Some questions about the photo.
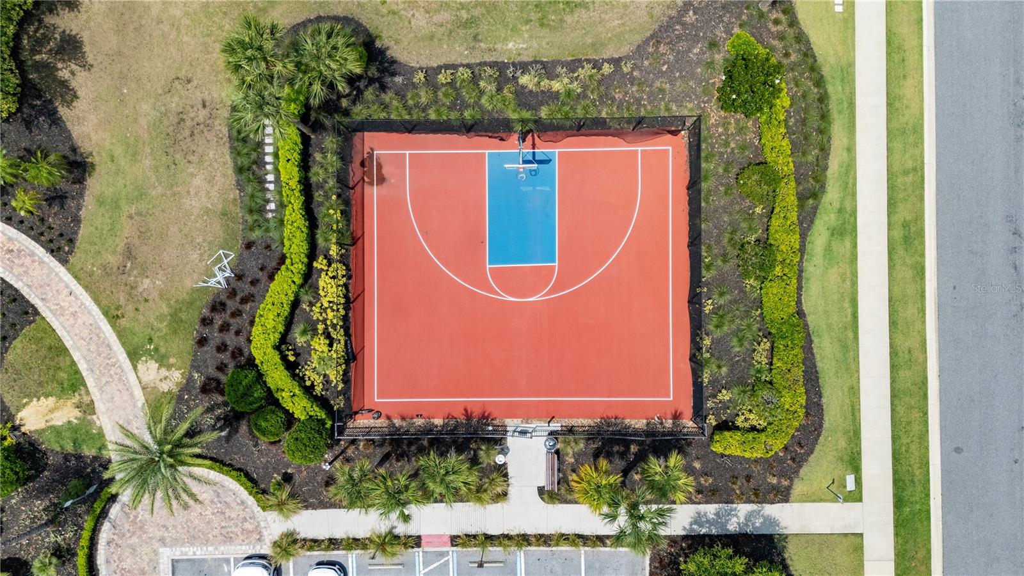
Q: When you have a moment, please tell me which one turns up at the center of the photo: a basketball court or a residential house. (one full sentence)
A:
You can see a basketball court at the center of the photo.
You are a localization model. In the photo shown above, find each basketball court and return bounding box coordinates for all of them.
[351,129,694,421]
